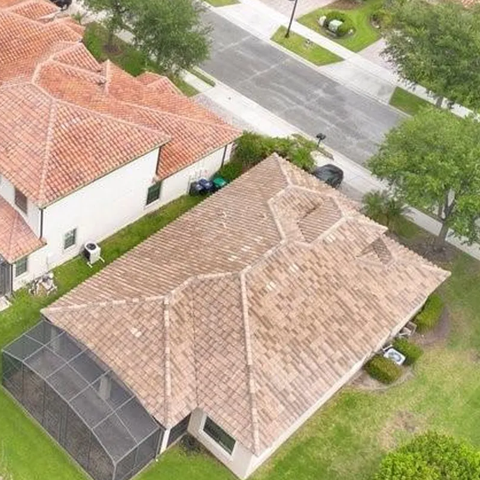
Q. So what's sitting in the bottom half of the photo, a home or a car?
home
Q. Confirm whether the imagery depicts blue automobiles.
No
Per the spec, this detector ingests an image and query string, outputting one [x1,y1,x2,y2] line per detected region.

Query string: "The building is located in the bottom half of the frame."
[36,155,451,474]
